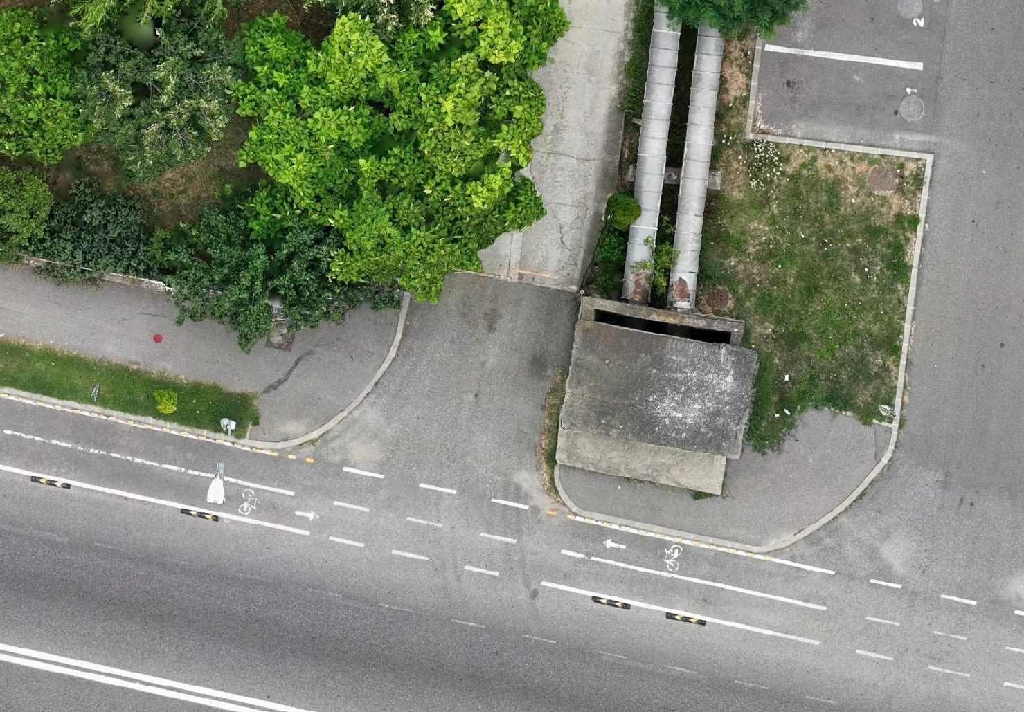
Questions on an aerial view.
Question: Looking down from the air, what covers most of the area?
paved ground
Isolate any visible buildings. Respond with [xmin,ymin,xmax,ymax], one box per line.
[556,296,756,495]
